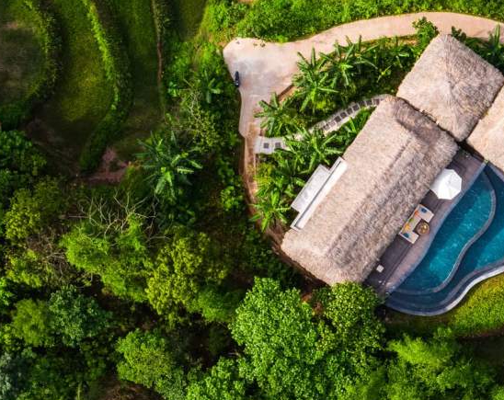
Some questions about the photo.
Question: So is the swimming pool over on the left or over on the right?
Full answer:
The swimming pool appears in the right half of the scene.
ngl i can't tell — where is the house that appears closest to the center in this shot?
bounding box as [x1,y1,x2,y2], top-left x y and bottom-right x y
[287,101,455,290]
